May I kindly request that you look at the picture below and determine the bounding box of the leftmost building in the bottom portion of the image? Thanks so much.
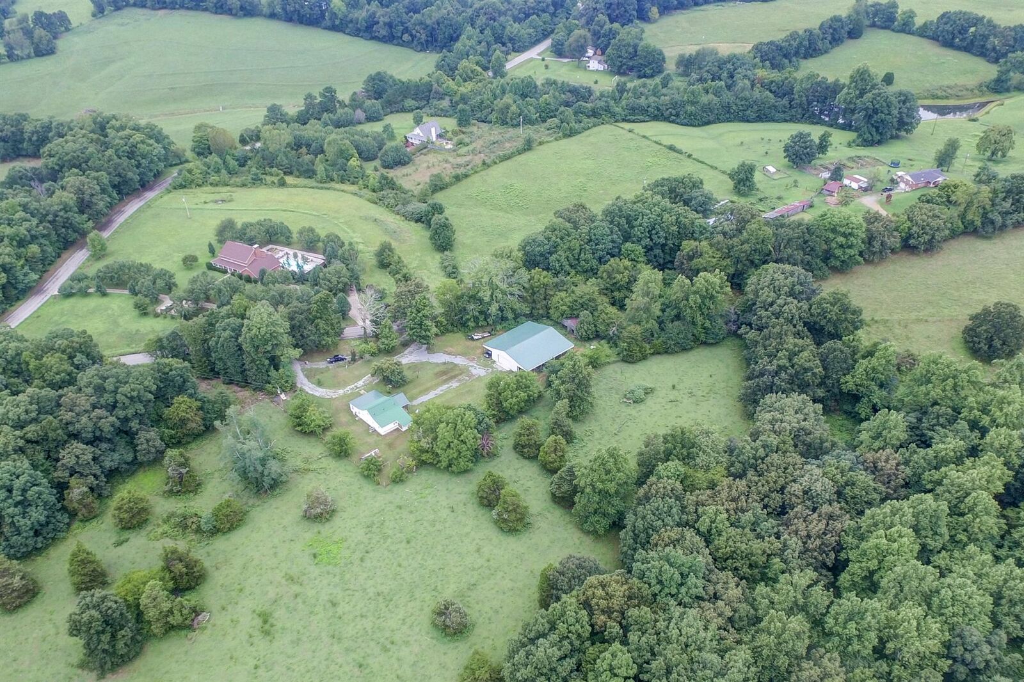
[347,389,414,435]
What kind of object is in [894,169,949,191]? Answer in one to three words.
house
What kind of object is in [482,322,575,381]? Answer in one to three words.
barn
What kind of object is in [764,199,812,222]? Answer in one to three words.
shed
